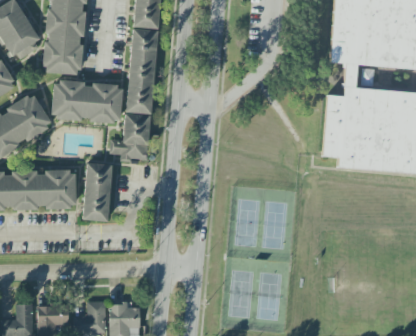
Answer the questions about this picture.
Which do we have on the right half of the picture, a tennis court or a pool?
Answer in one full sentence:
The feature located on the right half of the picture is a tennis court.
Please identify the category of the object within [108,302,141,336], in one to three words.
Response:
house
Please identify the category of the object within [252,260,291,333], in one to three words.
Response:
tennis court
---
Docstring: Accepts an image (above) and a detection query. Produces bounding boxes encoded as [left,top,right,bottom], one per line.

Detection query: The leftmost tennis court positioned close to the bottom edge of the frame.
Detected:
[221,258,258,331]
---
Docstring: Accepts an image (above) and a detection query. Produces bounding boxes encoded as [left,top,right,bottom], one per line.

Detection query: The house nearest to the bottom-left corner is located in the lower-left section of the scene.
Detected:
[4,304,34,336]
